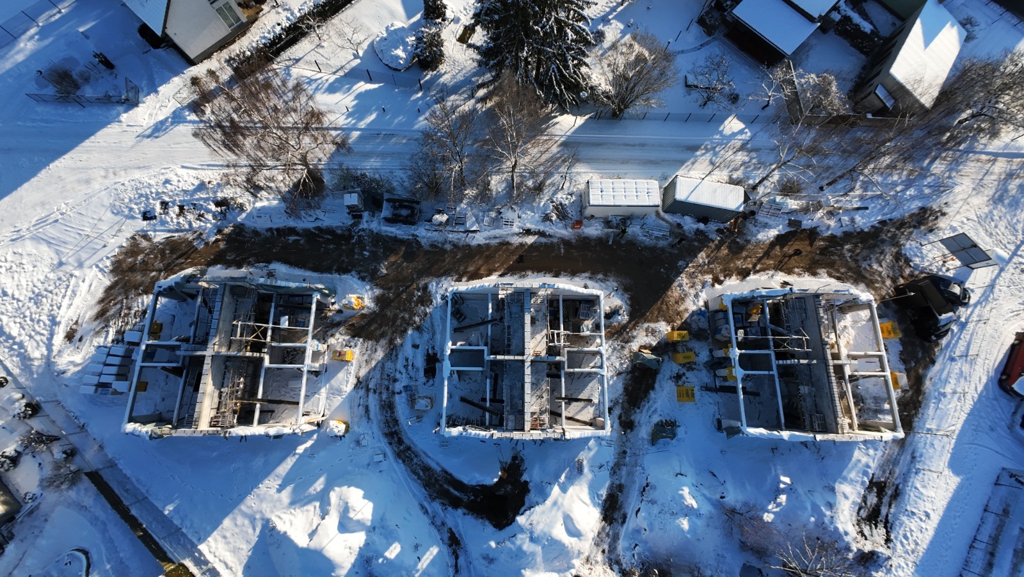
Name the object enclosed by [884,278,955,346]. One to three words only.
van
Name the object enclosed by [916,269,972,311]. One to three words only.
car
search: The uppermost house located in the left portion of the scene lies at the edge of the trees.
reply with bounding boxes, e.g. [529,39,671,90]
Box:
[125,0,265,65]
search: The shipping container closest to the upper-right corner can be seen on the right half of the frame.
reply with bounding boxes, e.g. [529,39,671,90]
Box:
[667,175,748,222]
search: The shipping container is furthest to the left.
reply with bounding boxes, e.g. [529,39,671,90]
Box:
[584,179,660,219]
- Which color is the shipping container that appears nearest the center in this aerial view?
white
